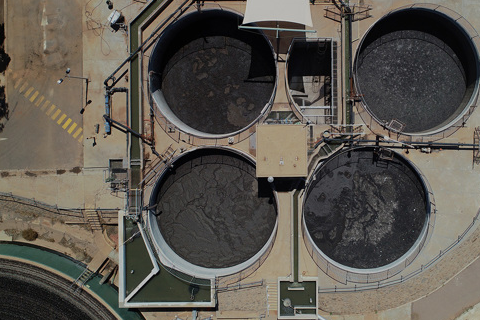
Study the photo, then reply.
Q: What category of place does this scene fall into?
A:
industrial area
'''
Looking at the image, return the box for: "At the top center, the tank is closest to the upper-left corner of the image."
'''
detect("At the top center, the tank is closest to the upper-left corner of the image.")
[144,5,277,137]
